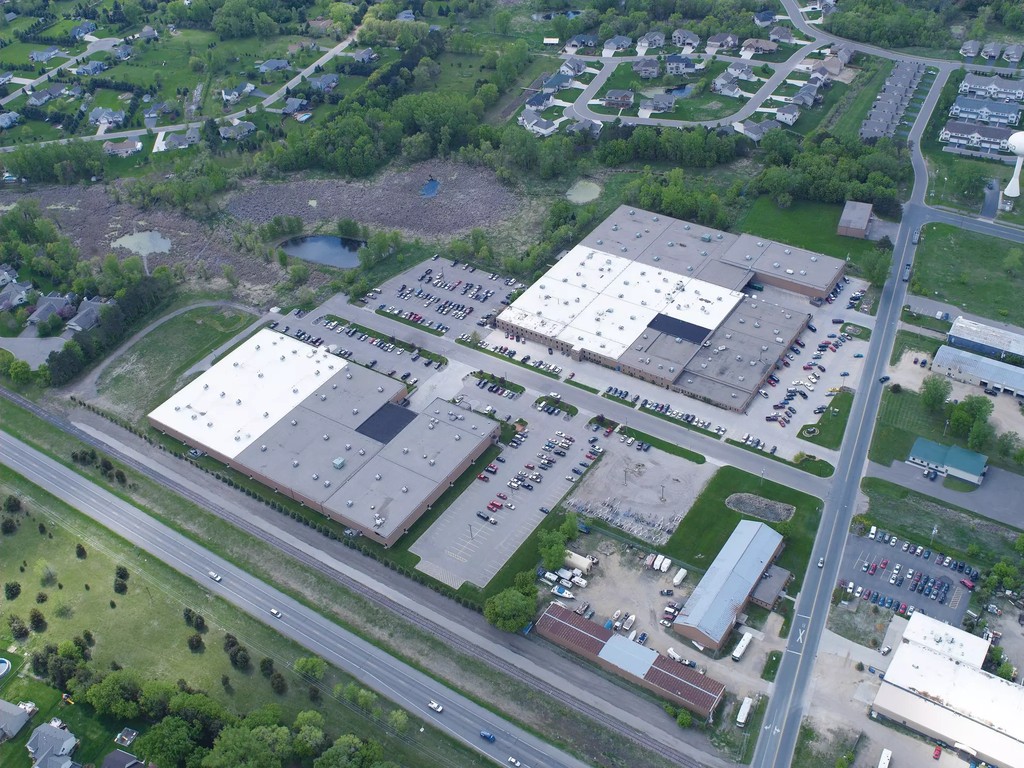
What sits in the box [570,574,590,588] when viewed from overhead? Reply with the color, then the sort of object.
white vehicle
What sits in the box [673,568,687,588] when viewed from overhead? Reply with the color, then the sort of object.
white vehicle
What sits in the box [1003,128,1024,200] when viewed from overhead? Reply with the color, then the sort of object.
white water tower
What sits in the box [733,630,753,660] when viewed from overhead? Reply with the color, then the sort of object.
white camper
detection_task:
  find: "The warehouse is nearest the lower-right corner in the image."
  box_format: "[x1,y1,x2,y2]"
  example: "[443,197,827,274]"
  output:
[872,611,1024,768]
